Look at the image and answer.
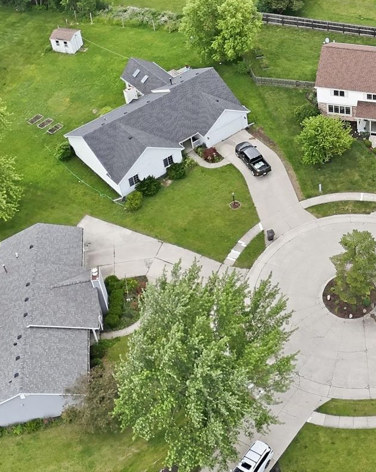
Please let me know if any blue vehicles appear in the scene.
No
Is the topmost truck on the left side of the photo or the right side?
right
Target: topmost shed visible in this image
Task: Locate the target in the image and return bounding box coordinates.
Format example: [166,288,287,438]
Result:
[47,28,84,53]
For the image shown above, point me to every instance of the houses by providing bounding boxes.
[0,221,114,425]
[64,58,255,203]
[314,36,376,134]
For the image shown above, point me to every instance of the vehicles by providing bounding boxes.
[232,438,274,472]
[234,141,270,177]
